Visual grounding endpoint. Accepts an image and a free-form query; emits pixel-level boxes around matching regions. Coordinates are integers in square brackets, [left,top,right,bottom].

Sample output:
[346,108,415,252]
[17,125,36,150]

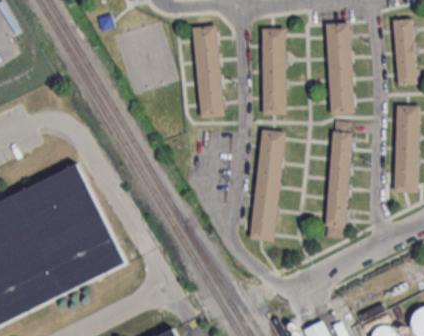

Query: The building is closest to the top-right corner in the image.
[392,18,420,88]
